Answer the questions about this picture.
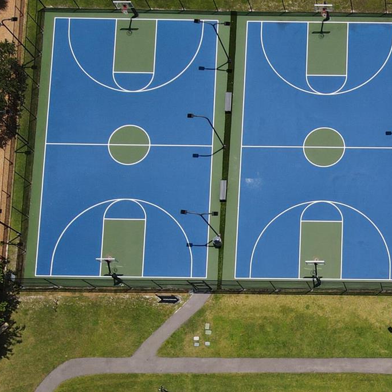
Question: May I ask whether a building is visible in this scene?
No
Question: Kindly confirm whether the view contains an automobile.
No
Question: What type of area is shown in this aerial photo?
sports ground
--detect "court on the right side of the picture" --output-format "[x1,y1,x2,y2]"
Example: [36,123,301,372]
[222,13,392,291]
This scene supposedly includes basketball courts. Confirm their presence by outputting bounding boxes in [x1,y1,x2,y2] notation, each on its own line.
[23,10,230,287]
[222,13,392,291]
